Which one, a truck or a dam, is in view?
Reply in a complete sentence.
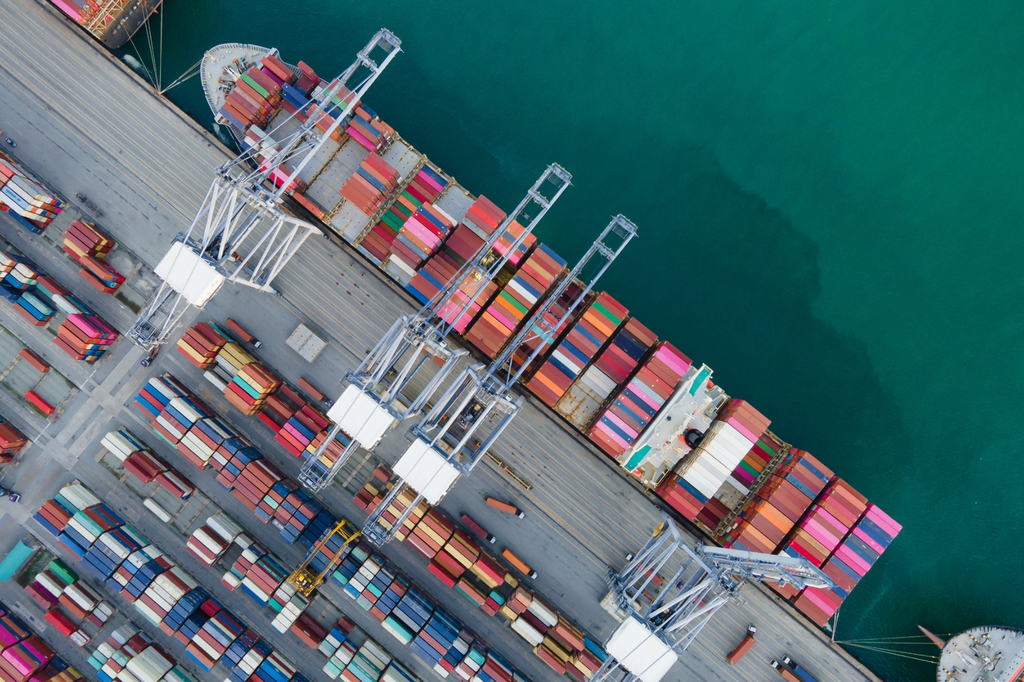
It is a truck that can be seen here.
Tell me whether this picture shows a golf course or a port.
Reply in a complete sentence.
It's a port.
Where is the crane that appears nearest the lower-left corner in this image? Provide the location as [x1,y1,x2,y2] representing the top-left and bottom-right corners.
[278,517,367,605]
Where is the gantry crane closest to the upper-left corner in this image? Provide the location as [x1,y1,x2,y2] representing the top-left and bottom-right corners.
[132,24,406,360]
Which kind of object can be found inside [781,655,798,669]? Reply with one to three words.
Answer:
vehicle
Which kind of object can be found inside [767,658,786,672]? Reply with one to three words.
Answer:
vehicle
